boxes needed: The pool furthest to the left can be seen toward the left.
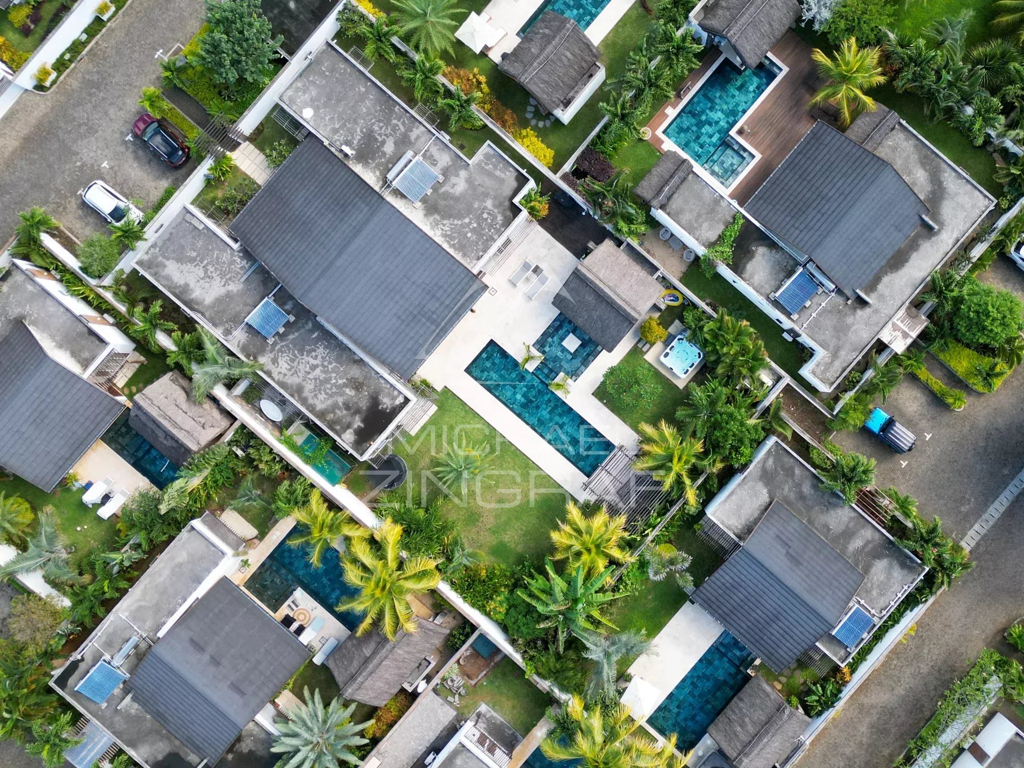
[102,409,182,487]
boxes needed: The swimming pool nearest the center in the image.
[464,313,615,478]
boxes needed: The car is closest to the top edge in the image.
[131,112,196,171]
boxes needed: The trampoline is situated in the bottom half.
[372,453,412,491]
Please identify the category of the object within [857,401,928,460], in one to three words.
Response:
car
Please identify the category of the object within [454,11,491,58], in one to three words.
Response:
umbrella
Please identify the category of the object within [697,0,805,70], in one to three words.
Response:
building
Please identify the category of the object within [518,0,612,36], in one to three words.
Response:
swimming pool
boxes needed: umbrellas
[620,666,661,720]
[454,11,491,58]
